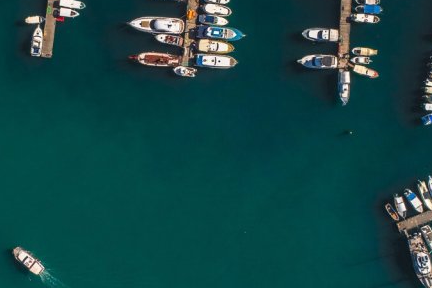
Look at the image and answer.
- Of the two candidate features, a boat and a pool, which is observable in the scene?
boat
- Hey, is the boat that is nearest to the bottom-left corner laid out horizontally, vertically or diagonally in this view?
diagonally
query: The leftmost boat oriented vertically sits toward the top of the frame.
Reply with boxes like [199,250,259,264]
[31,23,43,59]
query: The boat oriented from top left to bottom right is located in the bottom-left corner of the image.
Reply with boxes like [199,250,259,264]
[14,247,46,277]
